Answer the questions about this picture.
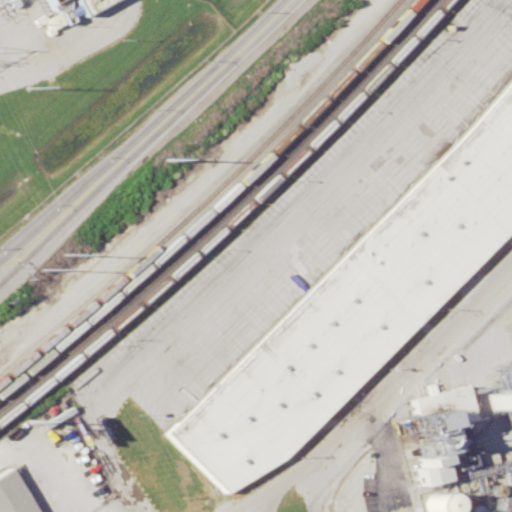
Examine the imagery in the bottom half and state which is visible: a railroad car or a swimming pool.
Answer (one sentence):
Visible in the bottom half is a railroad car.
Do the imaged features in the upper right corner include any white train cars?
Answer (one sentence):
Yes, a white train car shows up in the upper right corner.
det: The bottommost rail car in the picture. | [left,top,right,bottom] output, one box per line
[0,402,31,432]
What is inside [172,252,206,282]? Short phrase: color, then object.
white rail car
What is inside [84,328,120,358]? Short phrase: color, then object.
white rail car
